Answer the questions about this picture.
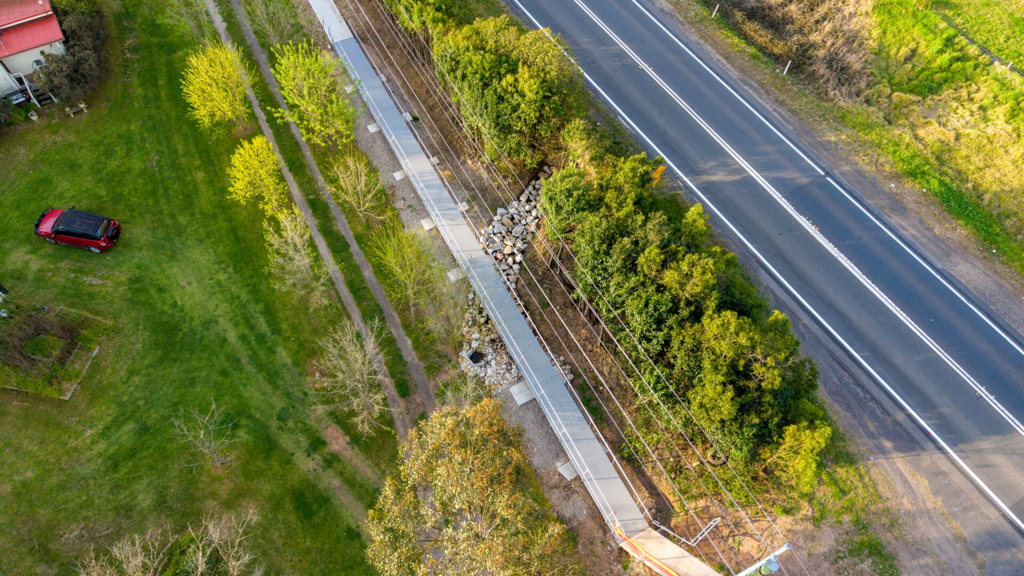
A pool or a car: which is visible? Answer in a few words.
car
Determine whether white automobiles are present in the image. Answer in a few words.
No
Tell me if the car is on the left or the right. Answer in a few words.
left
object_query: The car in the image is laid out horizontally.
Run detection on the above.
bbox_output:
[27,206,123,255]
